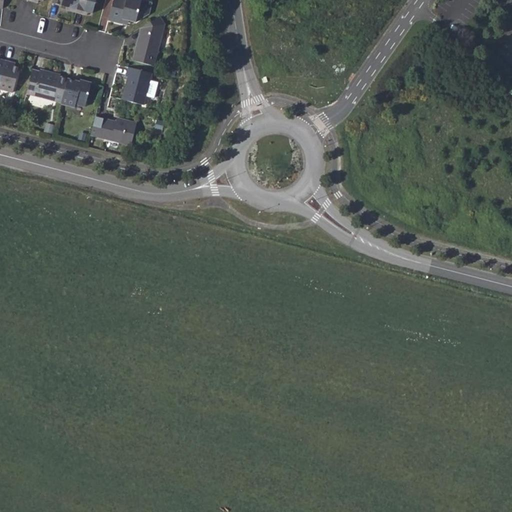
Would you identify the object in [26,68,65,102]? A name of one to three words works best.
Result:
house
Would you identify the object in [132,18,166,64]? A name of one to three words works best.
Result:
house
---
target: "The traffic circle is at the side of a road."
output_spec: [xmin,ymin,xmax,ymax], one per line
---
[226,113,325,212]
